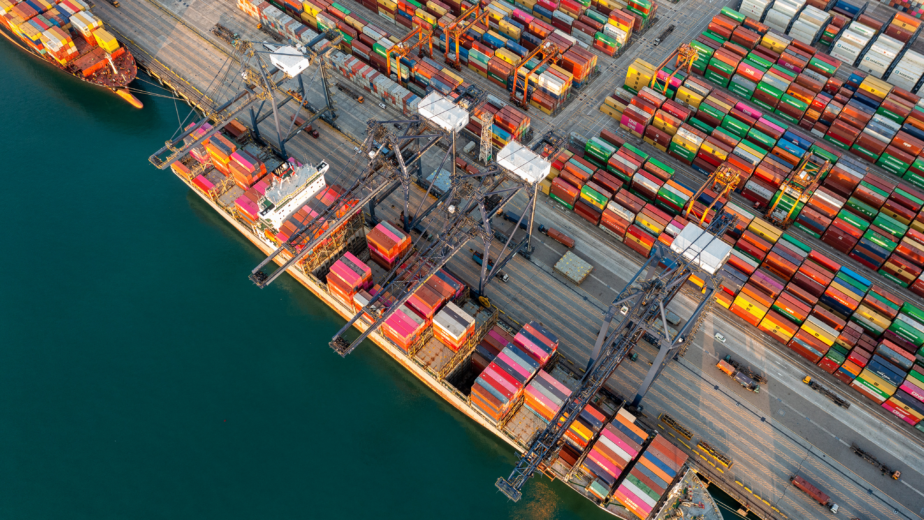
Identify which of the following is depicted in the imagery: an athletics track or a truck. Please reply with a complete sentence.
There is a truck in the scene.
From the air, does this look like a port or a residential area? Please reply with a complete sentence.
This looks like a port.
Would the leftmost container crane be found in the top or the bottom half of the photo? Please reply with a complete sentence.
It is in the top half that the leftmost container crane appears.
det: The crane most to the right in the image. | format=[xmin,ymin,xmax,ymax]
[763,152,830,227]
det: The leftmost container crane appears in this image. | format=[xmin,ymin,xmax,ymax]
[146,27,346,171]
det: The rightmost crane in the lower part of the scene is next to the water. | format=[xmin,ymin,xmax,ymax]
[495,197,747,507]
